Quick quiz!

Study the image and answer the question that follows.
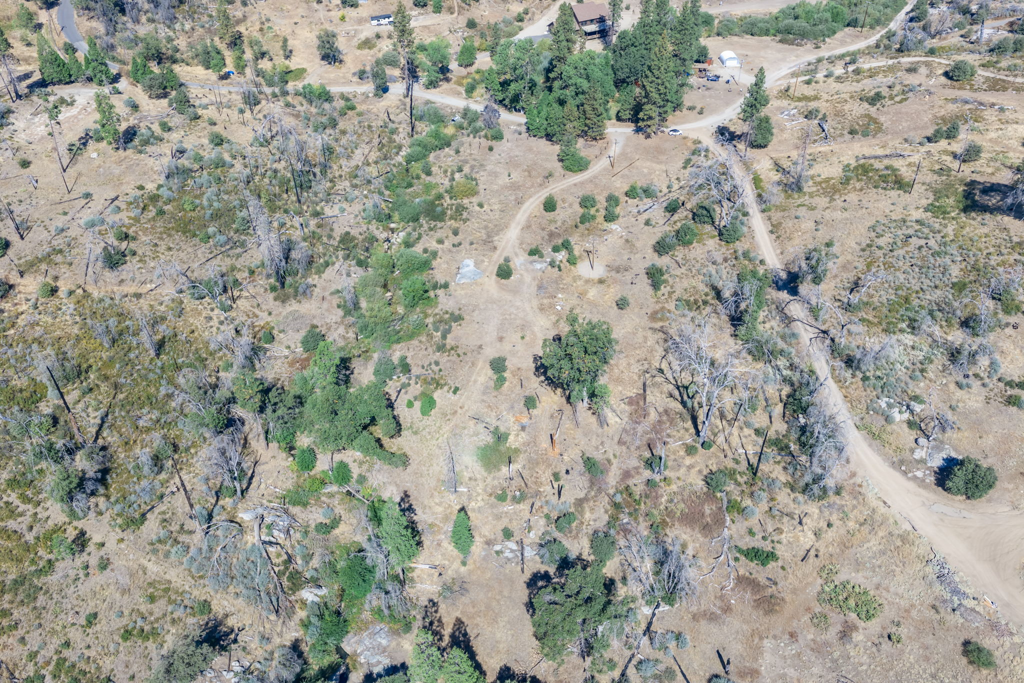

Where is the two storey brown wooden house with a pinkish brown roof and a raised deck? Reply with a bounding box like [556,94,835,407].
[550,0,612,35]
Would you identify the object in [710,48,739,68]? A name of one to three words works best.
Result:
shed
